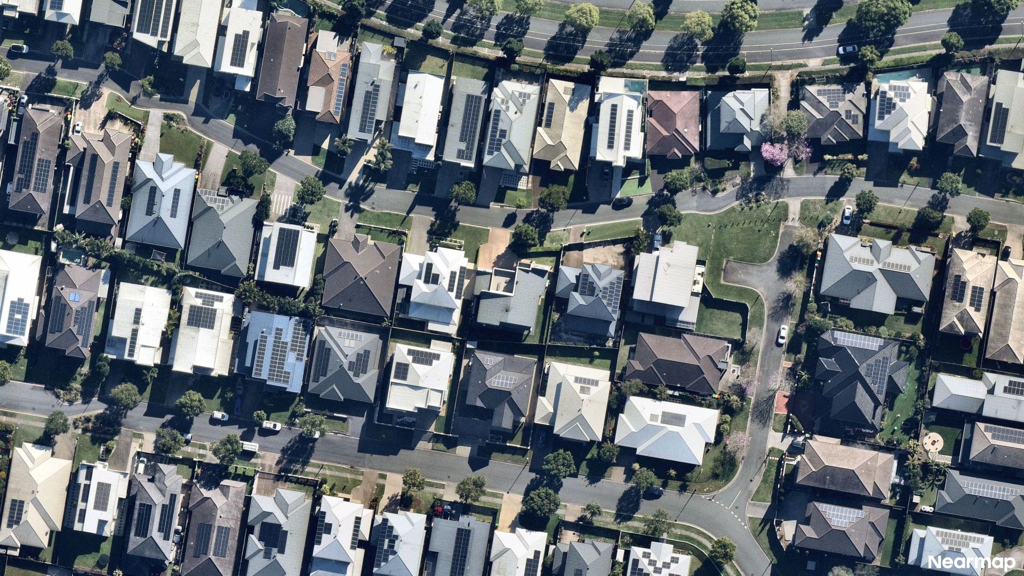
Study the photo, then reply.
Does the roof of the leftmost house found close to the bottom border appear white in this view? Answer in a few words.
Yes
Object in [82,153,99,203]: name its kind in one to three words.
solar array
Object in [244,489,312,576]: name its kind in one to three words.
house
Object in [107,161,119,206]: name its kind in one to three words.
solar array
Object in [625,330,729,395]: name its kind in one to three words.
house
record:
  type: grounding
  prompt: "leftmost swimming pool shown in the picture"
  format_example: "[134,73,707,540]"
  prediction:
[60,250,85,263]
